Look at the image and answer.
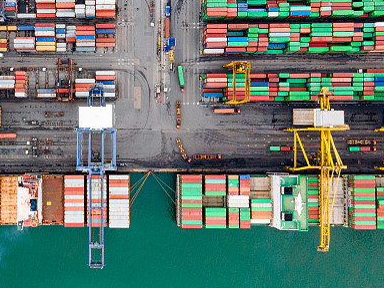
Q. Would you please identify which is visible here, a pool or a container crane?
container crane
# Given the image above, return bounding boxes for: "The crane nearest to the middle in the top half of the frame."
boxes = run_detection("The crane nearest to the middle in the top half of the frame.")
[220,61,250,104]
